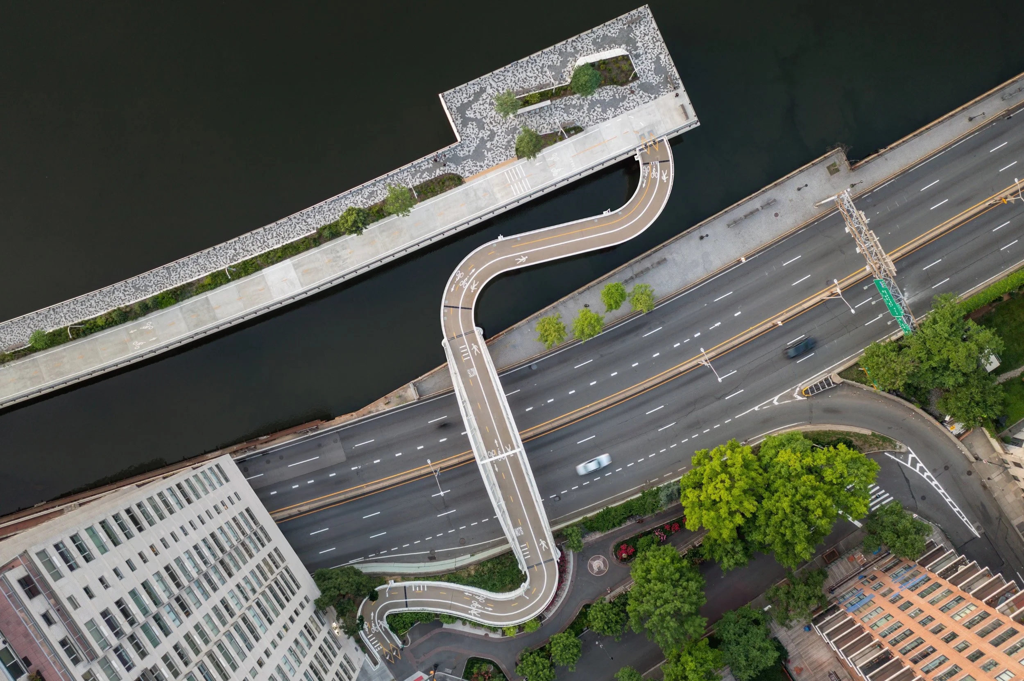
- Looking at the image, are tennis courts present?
No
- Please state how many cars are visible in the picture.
2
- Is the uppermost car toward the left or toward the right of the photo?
right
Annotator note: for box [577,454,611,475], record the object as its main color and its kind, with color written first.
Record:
white car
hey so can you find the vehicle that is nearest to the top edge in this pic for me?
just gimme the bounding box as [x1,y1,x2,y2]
[784,335,818,358]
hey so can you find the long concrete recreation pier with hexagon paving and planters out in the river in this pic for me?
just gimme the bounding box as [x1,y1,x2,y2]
[0,5,699,409]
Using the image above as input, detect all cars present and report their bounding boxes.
[784,335,818,358]
[577,454,611,475]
